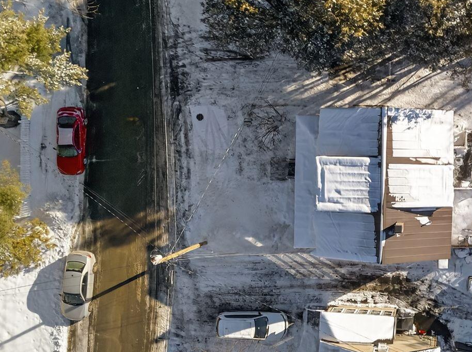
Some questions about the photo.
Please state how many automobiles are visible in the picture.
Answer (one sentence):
In total, 3 automobiles can be seen.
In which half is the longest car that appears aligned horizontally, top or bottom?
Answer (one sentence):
It is in the bottom half that the longest car that appears aligned horizontally appears.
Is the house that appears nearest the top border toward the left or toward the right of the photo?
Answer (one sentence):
The house that appears nearest the top border is on the right side of the image.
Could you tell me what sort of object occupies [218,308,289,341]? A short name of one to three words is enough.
car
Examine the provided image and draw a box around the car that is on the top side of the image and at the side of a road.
[52,107,87,172]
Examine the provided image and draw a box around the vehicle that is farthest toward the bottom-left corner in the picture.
[59,252,95,319]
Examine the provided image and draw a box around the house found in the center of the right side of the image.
[288,106,454,267]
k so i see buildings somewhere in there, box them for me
[288,106,454,267]
[319,306,441,352]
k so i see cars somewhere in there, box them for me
[218,308,289,341]
[59,252,95,319]
[52,107,87,172]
